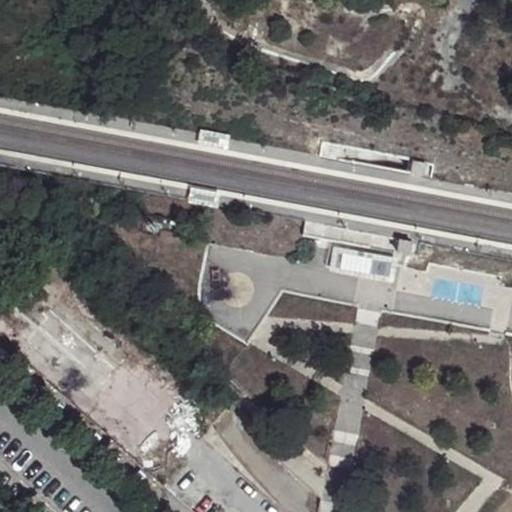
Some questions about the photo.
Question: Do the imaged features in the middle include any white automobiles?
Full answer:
No, no white automobile can be made out in the middle.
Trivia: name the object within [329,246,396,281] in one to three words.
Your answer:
building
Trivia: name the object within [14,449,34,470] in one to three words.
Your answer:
car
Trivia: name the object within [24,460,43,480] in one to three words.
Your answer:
car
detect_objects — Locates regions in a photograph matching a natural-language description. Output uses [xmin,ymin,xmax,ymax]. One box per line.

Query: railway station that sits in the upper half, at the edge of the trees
[0,96,512,259]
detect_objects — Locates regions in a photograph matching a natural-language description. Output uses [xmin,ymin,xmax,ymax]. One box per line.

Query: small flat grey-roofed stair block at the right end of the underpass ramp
[410,158,436,176]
